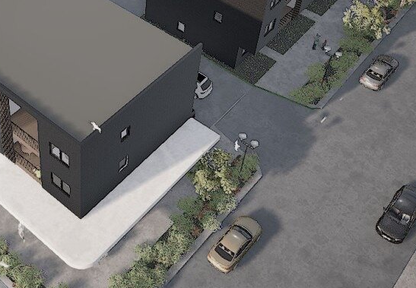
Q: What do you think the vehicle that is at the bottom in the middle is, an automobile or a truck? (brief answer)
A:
automobile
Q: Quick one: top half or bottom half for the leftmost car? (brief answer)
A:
top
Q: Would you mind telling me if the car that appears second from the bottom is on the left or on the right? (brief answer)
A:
right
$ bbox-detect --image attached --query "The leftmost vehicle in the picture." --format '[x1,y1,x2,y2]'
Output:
[194,70,218,101]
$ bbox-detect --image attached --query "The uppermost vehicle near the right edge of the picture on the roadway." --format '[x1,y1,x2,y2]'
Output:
[363,58,398,91]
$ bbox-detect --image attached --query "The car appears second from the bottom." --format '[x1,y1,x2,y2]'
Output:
[376,189,416,244]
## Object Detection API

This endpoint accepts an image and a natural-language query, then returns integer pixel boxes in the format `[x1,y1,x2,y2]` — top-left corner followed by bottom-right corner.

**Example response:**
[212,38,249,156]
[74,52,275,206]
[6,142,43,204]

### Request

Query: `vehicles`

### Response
[208,219,259,275]
[363,58,398,91]
[376,189,416,244]
[194,70,218,101]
